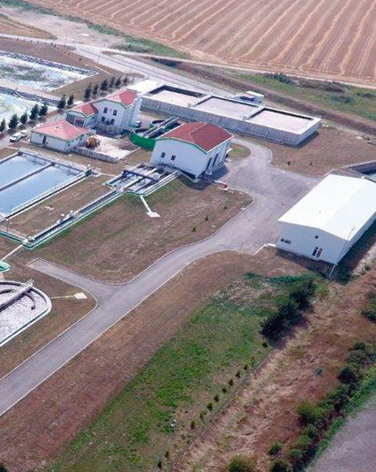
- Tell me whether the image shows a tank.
Yes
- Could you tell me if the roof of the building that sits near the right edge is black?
No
